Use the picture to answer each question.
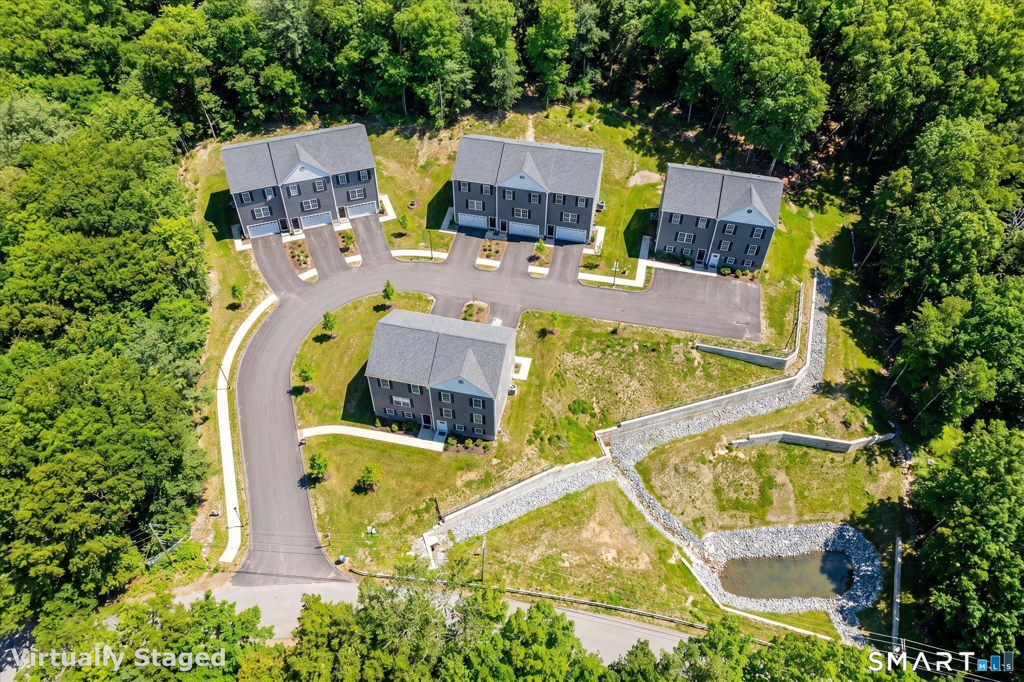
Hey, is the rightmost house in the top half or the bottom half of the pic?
top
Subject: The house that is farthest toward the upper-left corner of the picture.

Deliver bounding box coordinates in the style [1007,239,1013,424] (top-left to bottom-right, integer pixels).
[221,123,380,239]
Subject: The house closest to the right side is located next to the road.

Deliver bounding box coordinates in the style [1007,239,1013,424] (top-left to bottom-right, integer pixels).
[654,161,783,270]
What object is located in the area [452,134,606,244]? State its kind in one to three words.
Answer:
house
